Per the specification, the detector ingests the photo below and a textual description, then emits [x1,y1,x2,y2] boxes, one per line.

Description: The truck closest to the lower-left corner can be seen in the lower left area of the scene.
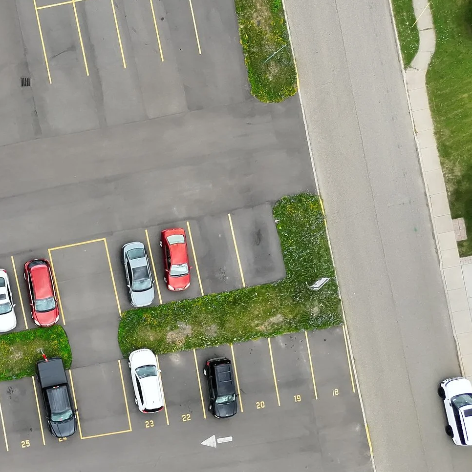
[37,354,79,440]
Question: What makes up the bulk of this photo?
paved ground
